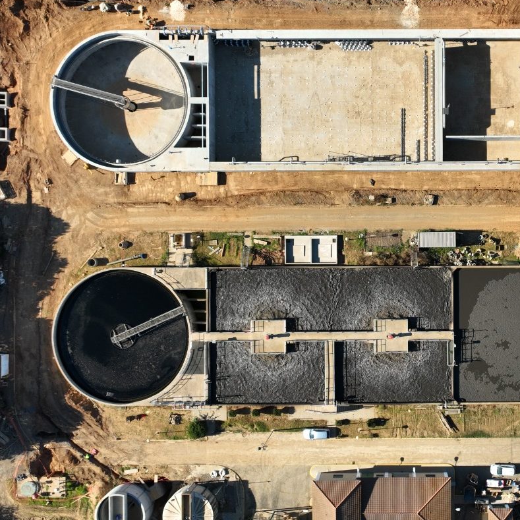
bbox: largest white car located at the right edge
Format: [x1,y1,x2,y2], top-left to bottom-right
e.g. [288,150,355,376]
[489,461,515,476]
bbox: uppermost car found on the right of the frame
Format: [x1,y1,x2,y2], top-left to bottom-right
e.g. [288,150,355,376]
[304,426,330,440]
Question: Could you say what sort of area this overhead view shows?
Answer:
industrial area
